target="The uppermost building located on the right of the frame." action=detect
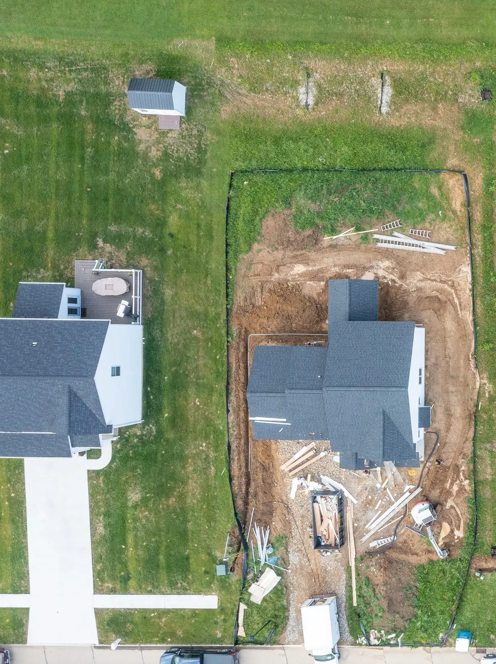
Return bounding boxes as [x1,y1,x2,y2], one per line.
[247,279,432,471]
